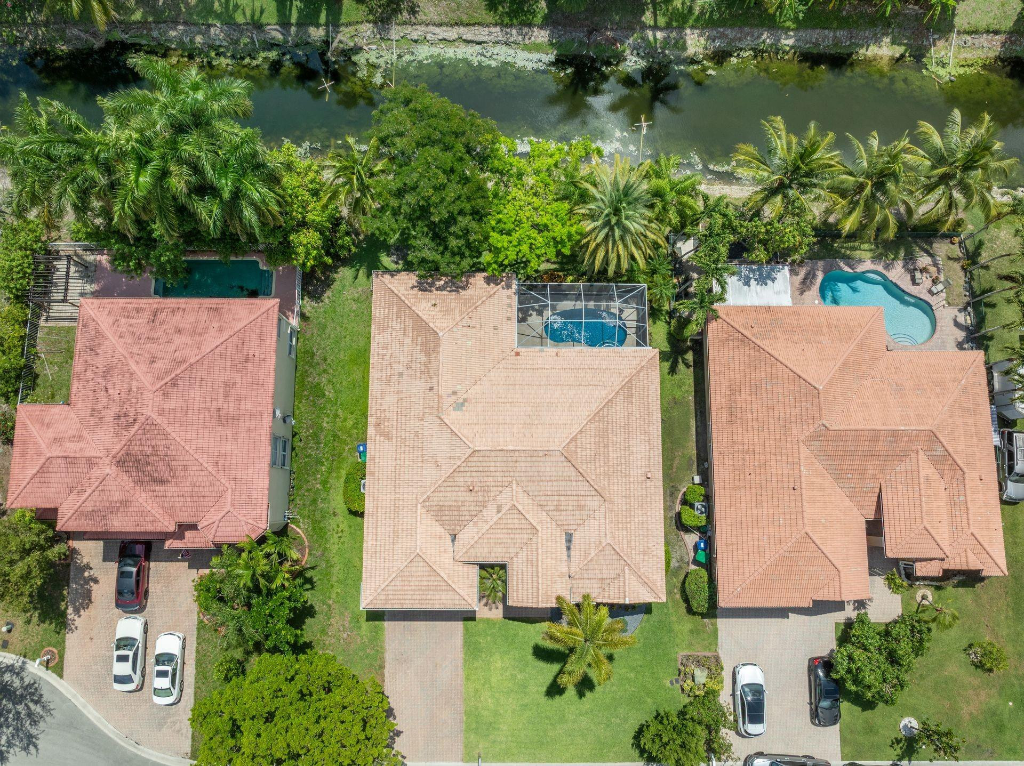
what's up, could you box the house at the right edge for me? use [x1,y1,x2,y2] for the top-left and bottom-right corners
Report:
[706,305,1010,609]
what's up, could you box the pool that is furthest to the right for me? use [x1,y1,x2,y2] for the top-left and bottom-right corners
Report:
[817,266,939,348]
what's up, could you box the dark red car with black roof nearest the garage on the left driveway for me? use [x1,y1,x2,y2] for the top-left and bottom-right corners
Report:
[113,540,153,614]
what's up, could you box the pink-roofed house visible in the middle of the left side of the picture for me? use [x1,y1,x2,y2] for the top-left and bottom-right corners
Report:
[4,296,297,549]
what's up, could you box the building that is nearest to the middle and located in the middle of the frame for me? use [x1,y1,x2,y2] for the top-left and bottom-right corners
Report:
[360,270,668,612]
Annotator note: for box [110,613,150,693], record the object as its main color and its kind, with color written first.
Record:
white car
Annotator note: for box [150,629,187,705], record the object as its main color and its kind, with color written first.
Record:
white car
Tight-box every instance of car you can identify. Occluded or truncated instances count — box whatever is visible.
[996,428,1024,502]
[110,613,150,693]
[729,660,768,741]
[113,540,153,614]
[741,750,828,766]
[804,652,846,729]
[150,629,187,705]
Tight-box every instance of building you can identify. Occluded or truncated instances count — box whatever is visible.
[706,305,1010,609]
[4,296,297,549]
[360,270,668,612]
